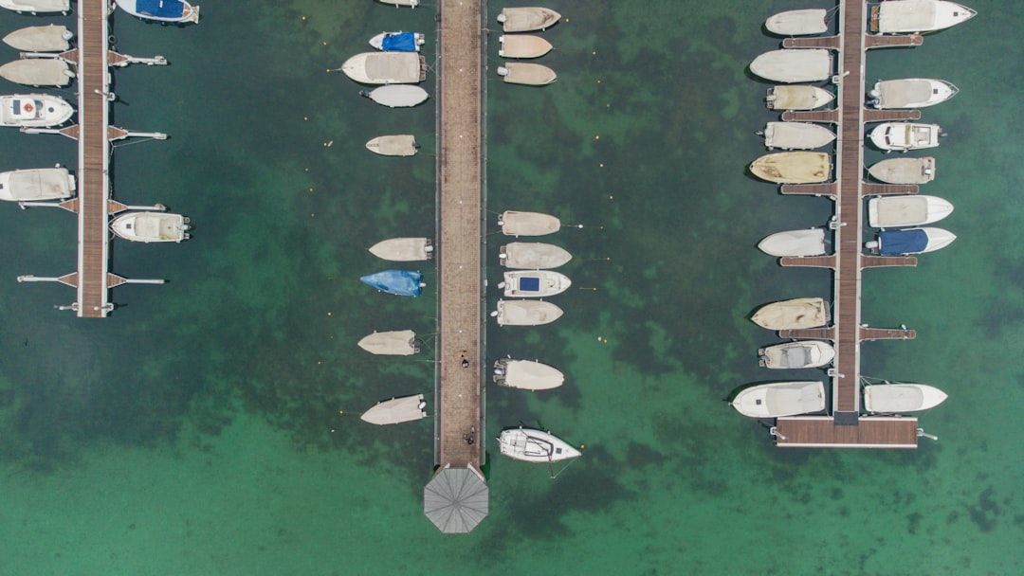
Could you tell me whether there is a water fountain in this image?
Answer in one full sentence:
No, no water fountain is visible in the scene.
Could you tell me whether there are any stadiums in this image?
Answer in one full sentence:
No, no stadium can be seen from above.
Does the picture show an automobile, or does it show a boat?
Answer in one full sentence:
The image shows a boat.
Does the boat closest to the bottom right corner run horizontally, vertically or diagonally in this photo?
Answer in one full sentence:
In this picture, the boat closest to the bottom right corner is oriented horizontally.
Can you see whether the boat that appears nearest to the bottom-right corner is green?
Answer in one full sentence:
No, from above the boat that appears nearest to the bottom-right corner looks white.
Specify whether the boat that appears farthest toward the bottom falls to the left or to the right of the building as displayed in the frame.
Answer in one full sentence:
From the viewer's perspective, the boat that appears farthest toward the bottom falls to the right of the building.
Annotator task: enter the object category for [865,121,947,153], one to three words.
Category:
boat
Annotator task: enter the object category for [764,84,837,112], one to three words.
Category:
boat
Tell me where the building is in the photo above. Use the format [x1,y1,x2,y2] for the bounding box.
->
[424,461,489,534]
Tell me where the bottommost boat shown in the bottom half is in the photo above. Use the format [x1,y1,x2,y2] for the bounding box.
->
[497,426,582,477]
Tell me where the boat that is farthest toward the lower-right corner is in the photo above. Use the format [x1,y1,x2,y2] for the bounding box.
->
[859,380,949,416]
